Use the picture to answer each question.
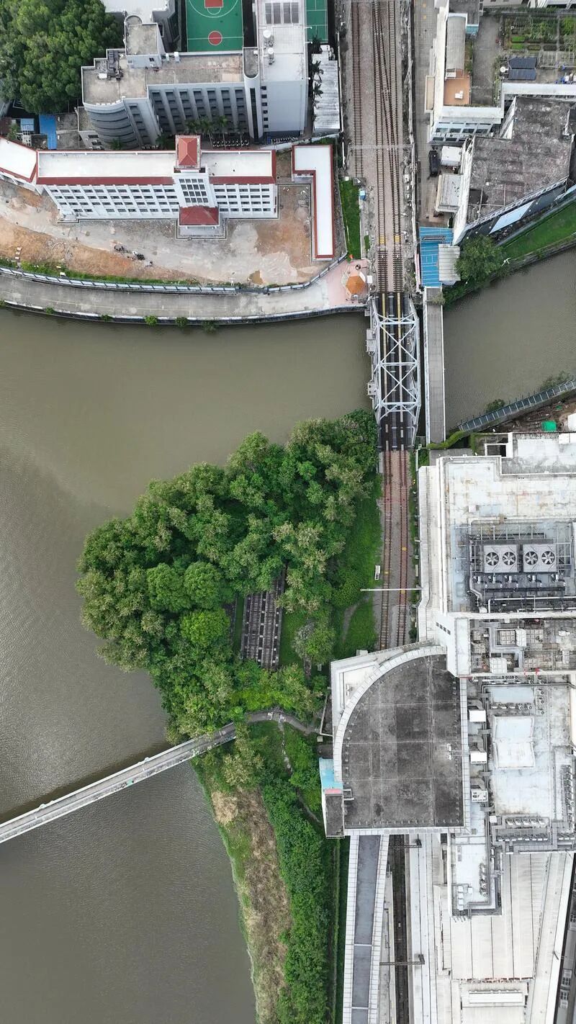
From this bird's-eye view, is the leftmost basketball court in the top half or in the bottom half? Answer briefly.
top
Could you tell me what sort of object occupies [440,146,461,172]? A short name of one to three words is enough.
shed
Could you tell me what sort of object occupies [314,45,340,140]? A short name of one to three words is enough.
shed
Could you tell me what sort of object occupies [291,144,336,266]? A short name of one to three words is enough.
building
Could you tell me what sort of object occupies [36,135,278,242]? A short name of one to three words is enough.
building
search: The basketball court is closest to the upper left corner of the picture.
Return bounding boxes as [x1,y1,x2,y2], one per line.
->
[186,0,243,52]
